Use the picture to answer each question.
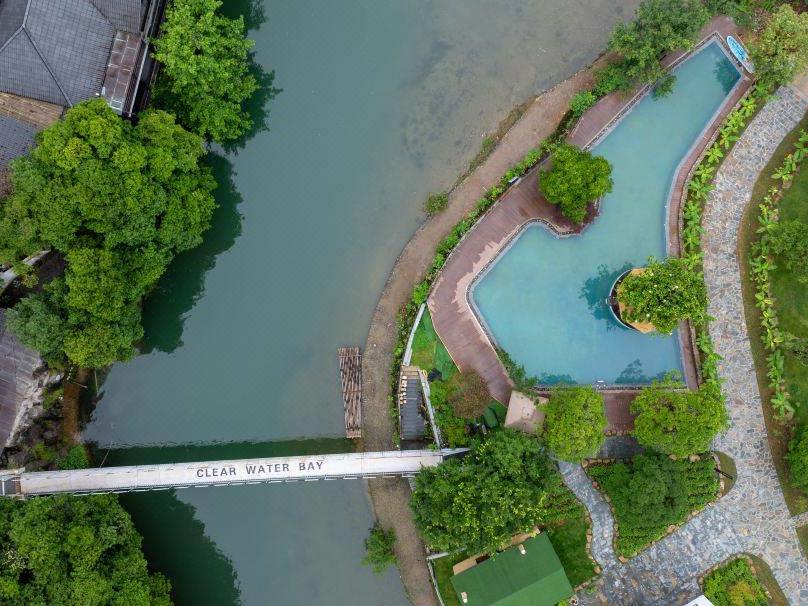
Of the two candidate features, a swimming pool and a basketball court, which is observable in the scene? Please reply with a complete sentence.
Looking from above, you can make out a swimming pool.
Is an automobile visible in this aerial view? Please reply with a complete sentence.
No, there's no automobile here.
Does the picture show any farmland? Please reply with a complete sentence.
No, there's no farmland in this view.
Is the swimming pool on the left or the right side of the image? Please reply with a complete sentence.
The swimming pool is on the right side of the image.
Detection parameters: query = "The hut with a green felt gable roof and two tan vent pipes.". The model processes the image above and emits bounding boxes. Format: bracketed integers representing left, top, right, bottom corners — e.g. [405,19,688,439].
[447,518,574,606]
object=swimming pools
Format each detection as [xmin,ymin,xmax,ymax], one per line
[467,33,749,392]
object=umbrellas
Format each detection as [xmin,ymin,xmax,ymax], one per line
[505,391,548,432]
